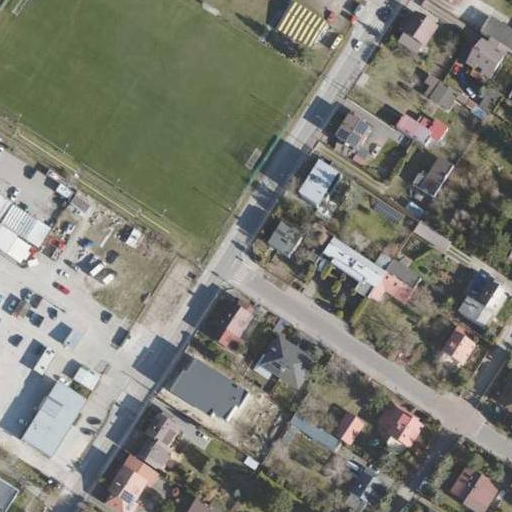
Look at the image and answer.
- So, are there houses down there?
Yes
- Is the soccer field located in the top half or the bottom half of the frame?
top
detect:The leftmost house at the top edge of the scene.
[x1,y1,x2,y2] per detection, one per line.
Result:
[398,13,437,58]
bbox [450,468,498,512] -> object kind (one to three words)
house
